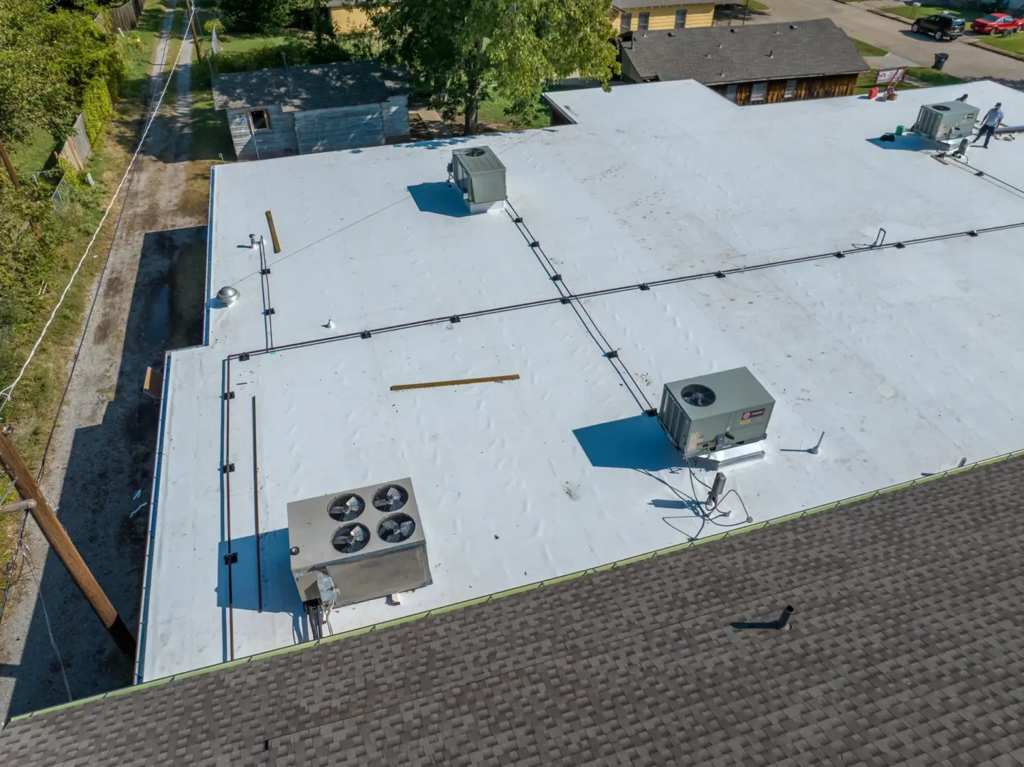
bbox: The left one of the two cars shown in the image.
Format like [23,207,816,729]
[908,8,971,40]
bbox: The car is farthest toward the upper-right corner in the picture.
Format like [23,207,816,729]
[972,11,1024,35]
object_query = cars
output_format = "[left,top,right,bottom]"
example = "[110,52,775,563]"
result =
[908,8,971,40]
[972,11,1024,35]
